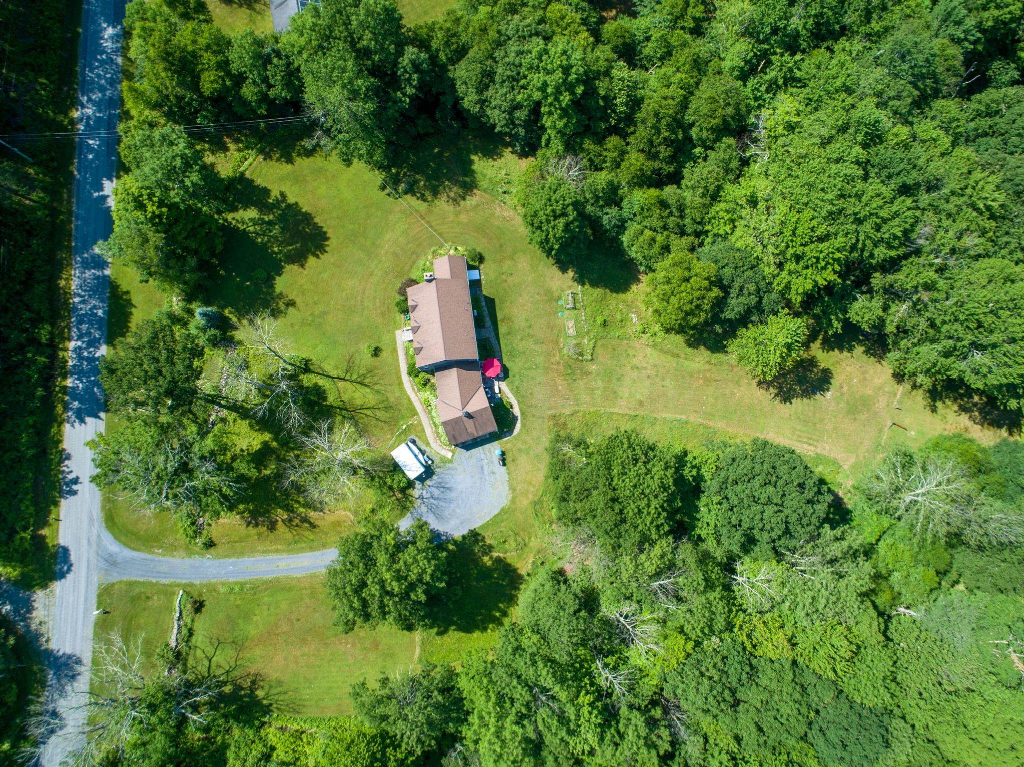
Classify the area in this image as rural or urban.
rural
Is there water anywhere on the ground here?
No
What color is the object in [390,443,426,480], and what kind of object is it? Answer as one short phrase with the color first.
white trailer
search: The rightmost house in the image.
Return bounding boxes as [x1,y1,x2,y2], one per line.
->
[407,255,498,446]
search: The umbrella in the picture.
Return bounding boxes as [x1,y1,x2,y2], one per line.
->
[481,358,500,377]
